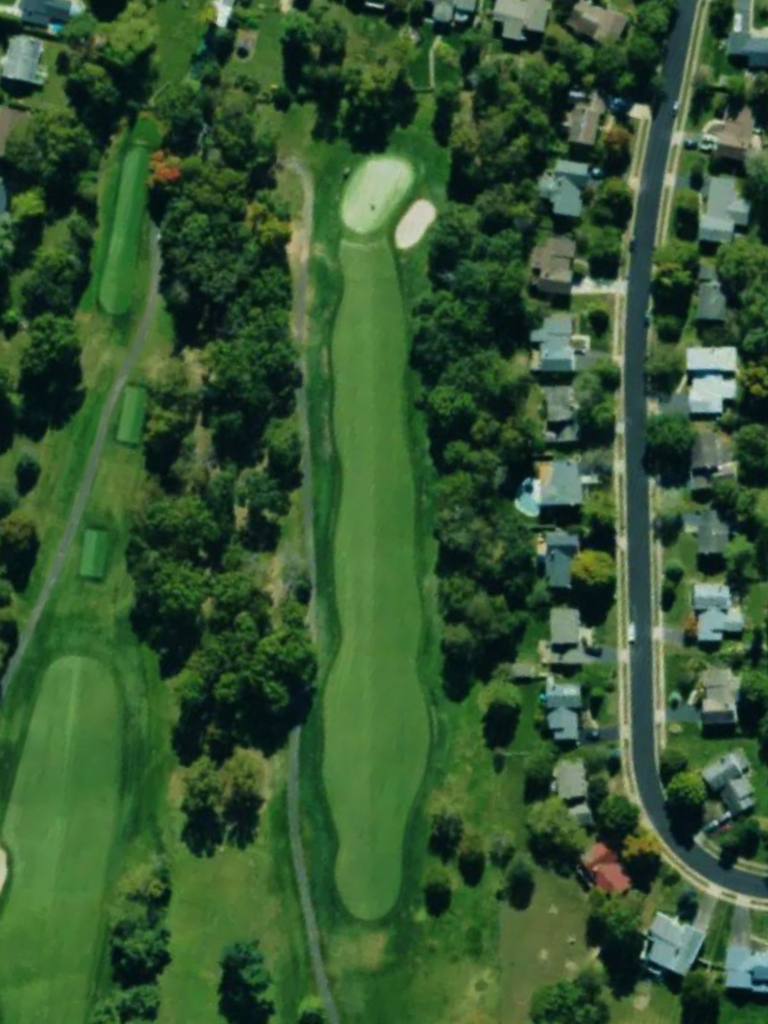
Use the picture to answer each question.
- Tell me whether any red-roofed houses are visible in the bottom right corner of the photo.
Yes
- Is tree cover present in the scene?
Yes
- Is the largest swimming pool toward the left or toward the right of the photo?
right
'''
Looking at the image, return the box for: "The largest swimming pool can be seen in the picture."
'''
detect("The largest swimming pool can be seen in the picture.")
[514,475,541,519]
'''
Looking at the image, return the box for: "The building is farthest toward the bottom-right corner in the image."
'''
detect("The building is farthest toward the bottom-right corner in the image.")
[725,946,768,993]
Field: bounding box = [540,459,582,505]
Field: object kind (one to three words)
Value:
house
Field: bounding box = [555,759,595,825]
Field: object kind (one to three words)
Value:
house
